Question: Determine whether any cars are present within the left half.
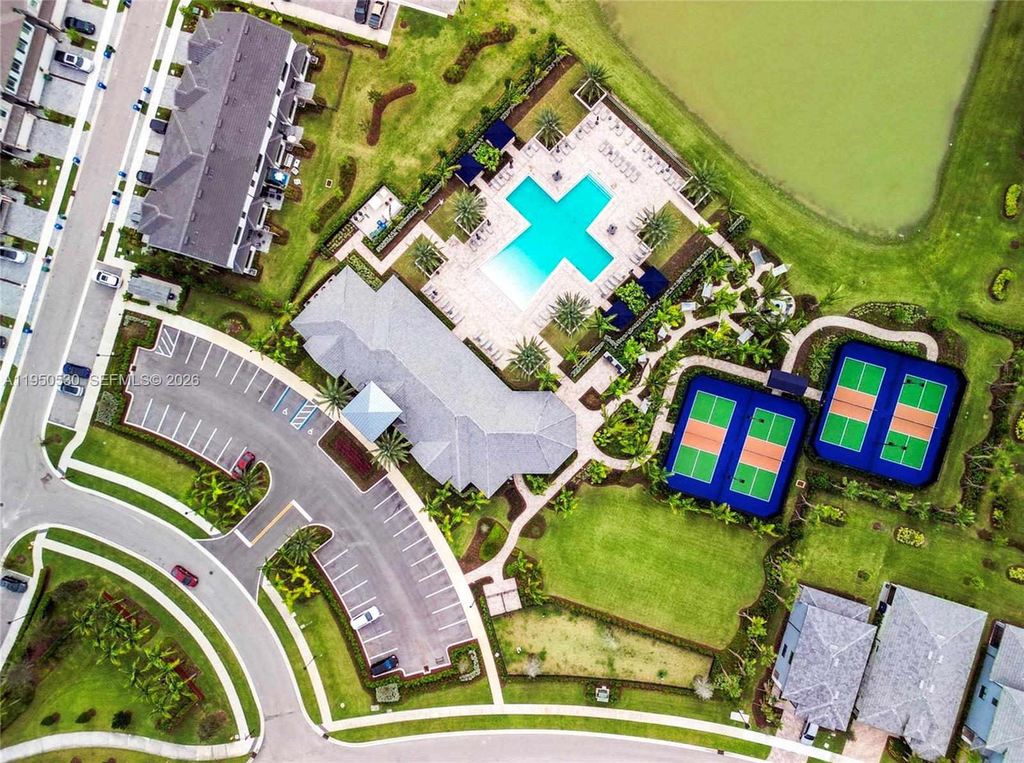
Yes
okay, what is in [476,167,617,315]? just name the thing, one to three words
swimming pool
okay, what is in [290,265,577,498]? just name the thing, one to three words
building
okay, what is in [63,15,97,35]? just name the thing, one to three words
car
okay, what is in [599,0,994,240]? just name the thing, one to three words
pond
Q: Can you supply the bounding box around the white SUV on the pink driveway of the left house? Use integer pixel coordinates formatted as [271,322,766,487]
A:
[798,718,819,748]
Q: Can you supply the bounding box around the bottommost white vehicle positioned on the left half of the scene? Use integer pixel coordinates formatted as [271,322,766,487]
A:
[350,605,382,629]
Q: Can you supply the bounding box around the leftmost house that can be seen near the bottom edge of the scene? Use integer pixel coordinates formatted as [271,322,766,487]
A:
[768,584,877,732]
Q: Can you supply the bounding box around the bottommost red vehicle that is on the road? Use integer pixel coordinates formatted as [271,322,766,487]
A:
[170,564,200,589]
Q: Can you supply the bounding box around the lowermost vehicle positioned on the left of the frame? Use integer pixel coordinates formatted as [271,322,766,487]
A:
[368,654,401,677]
